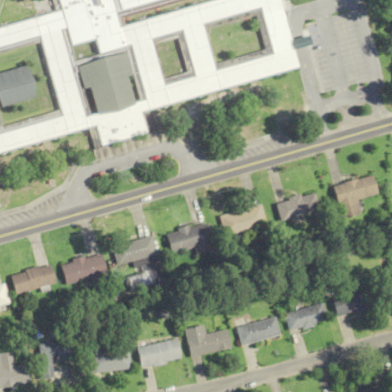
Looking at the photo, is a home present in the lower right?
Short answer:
Yes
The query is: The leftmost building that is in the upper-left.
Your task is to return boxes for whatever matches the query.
[0,66,36,108]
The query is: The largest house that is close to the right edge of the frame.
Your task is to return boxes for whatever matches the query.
[334,176,380,218]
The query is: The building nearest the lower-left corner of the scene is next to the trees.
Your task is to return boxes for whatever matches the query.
[0,353,30,388]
